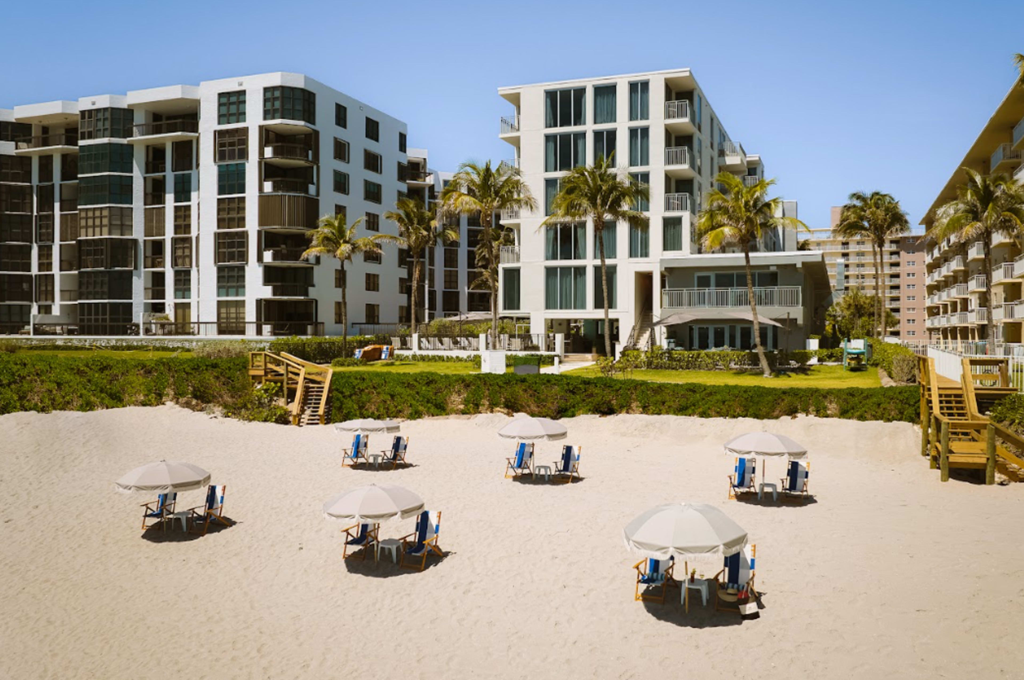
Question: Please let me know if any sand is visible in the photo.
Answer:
Yes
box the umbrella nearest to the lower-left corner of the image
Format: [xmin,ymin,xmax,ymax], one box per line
[115,459,211,535]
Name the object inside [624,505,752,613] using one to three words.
umbrella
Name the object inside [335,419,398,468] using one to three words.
umbrella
